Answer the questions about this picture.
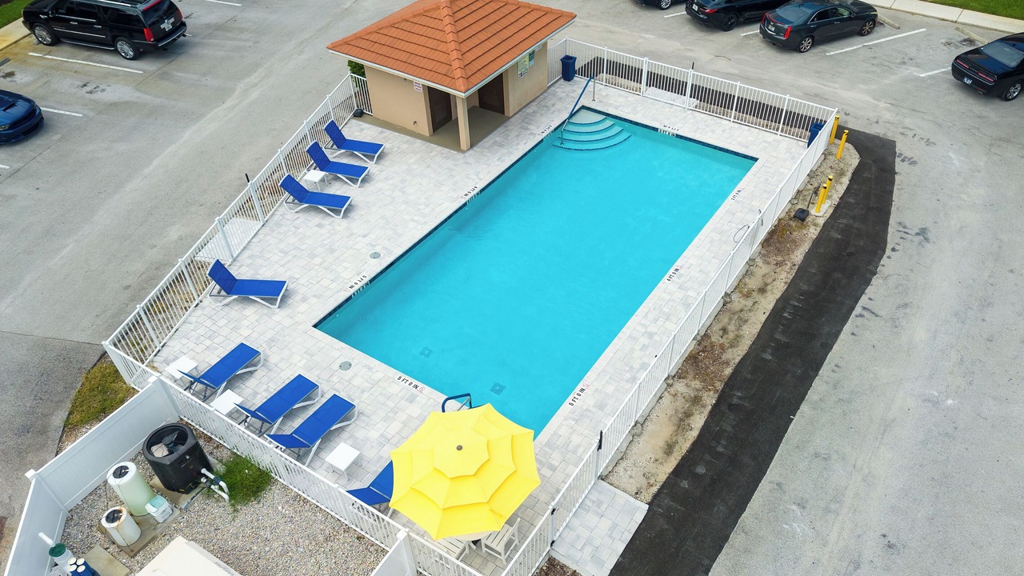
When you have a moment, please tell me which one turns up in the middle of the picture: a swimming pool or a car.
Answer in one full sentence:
You can see a swimming pool in the middle of the picture.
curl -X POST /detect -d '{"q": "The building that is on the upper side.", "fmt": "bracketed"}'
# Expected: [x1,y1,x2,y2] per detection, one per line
[323,0,580,152]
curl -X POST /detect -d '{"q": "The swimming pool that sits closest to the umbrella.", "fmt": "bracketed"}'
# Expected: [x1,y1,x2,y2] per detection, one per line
[296,102,768,456]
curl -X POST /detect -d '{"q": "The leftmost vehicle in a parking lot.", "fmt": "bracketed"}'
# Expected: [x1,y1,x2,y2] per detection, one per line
[0,87,47,145]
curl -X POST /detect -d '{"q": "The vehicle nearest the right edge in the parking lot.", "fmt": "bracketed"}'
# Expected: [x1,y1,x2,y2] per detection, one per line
[944,26,1024,102]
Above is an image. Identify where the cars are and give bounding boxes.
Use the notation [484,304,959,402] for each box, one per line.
[635,0,675,11]
[0,87,47,145]
[678,0,787,33]
[754,0,889,53]
[10,0,193,61]
[944,26,1024,102]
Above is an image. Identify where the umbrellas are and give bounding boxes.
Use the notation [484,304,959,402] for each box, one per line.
[387,405,542,543]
